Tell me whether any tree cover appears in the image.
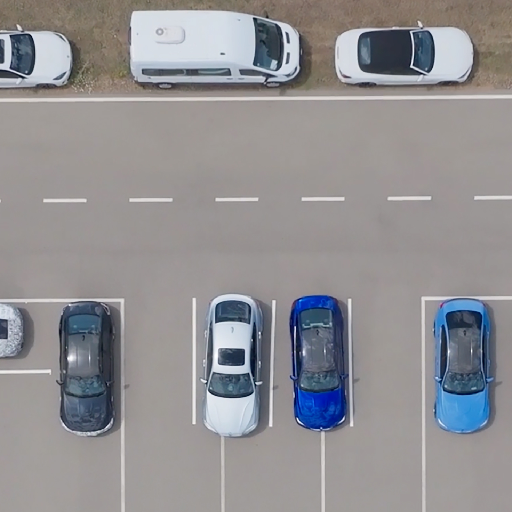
No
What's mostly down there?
paved ground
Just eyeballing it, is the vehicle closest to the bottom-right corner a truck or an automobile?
automobile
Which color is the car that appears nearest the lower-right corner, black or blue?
blue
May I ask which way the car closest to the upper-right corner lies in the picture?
from side to side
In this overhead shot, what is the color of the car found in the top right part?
white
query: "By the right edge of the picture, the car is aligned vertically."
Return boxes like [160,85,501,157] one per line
[432,298,497,435]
